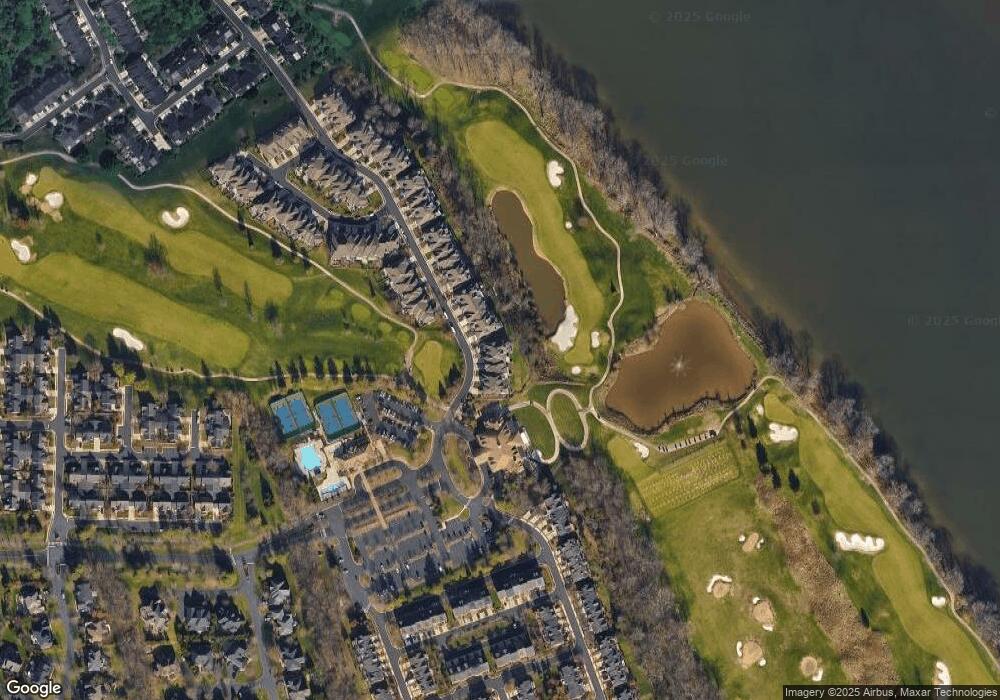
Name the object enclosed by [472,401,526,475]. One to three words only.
building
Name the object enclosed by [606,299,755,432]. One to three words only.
pond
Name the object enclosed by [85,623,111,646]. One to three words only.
house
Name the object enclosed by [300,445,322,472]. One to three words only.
swimming pool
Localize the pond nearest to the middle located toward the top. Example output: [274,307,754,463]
[493,190,565,336]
